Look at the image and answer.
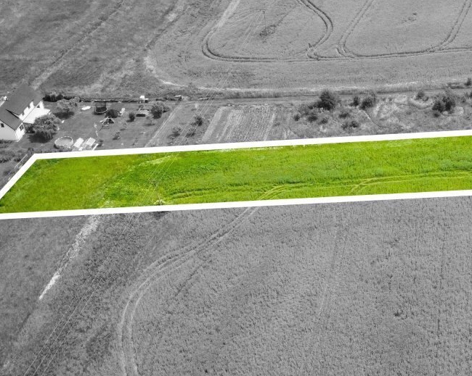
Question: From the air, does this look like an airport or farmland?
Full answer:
This looks like farmland.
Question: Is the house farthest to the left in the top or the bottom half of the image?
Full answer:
The house farthest to the left is in the top half of the image.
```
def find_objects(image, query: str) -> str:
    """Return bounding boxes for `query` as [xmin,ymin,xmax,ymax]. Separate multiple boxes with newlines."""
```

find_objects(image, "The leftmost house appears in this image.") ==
[0,84,51,142]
